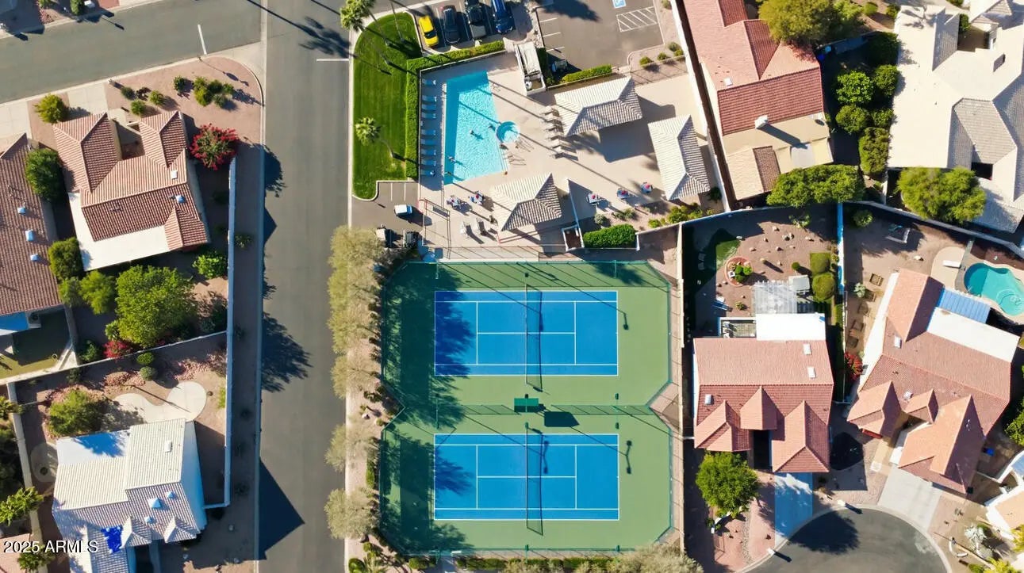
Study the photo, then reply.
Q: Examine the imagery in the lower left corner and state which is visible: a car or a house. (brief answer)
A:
house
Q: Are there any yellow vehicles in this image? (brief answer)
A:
Yes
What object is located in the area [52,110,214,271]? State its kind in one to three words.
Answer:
house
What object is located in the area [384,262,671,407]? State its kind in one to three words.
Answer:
tennis court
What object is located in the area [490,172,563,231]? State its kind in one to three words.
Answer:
building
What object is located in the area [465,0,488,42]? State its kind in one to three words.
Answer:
truck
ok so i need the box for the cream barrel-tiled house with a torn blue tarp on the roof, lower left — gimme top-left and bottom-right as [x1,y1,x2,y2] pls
[52,418,208,573]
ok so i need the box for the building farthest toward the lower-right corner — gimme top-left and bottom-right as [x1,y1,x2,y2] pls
[974,443,1024,530]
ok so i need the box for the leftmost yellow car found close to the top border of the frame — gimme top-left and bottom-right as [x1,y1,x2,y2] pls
[419,16,439,47]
